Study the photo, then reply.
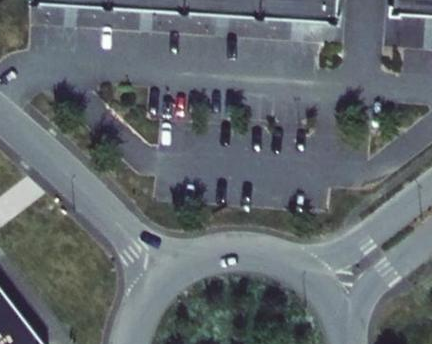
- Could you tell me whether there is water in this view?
No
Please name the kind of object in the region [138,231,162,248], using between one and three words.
car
